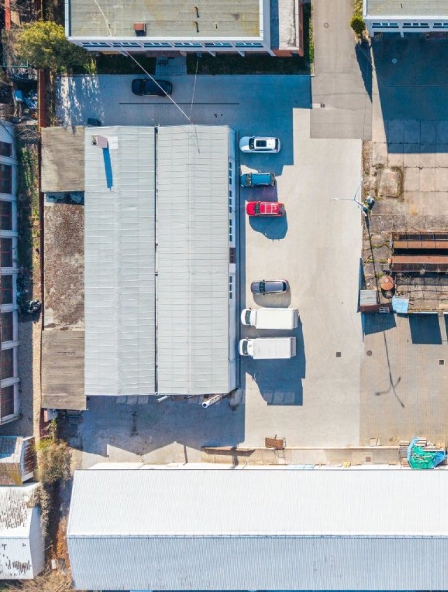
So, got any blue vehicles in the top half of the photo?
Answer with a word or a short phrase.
Yes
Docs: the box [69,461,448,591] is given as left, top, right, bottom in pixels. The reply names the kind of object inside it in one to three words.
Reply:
building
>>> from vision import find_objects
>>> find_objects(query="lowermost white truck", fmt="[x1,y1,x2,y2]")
[242,336,298,358]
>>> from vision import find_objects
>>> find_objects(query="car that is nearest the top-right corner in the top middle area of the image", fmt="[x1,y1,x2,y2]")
[242,136,280,153]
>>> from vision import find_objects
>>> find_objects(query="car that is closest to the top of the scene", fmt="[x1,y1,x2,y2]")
[133,78,173,97]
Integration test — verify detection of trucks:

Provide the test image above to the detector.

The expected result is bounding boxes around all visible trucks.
[242,336,298,358]
[243,308,300,330]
